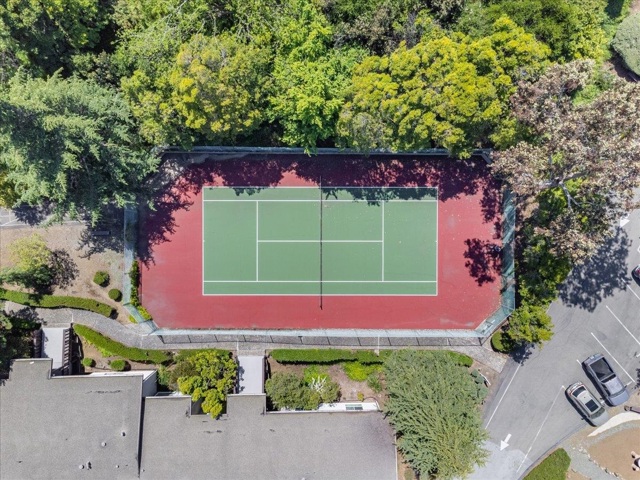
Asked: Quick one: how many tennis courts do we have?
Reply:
one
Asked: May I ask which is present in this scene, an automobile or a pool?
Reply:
automobile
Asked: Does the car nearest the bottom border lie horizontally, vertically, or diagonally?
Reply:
diagonally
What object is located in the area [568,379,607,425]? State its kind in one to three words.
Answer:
car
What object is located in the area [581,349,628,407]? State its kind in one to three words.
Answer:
truck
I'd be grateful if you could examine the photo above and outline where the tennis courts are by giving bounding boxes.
[137,154,502,330]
